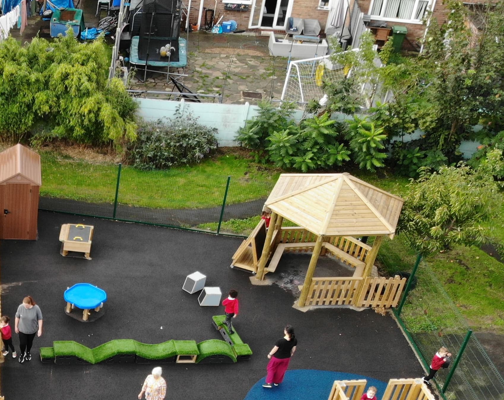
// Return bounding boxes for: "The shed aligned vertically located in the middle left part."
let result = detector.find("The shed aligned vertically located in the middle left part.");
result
[0,144,43,240]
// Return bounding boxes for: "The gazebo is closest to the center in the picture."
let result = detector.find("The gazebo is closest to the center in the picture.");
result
[256,168,405,306]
